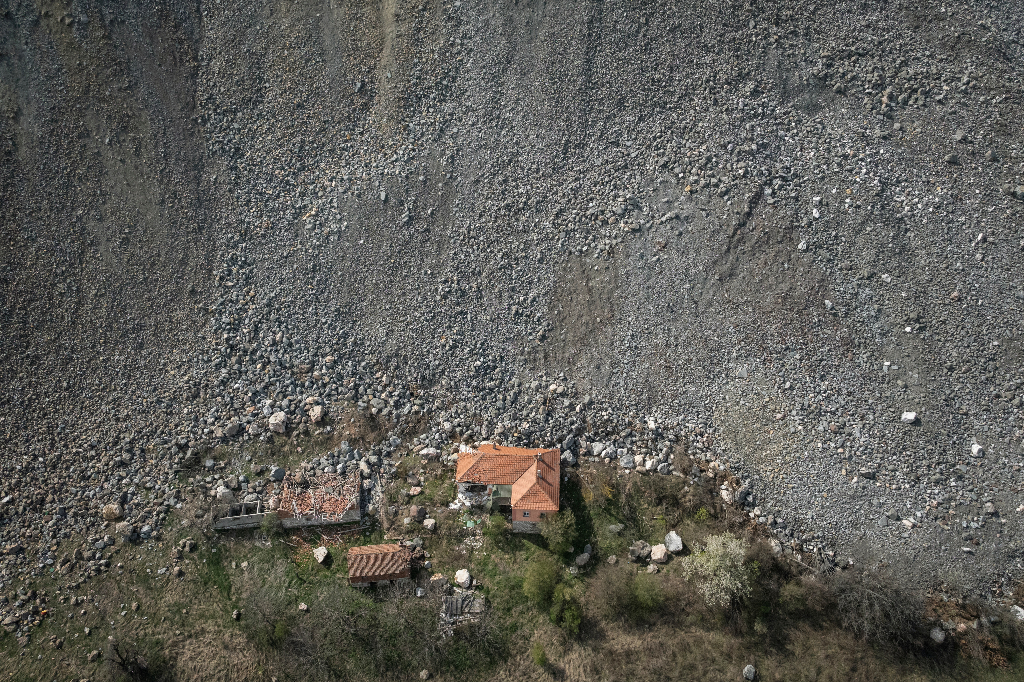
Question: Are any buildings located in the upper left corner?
No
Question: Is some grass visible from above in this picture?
Yes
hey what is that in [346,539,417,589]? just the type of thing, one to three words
barn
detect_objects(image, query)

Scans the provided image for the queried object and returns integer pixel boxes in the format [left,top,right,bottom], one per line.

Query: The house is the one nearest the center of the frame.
[453,443,564,534]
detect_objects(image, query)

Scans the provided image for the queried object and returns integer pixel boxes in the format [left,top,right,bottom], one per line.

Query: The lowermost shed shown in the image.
[436,596,483,639]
